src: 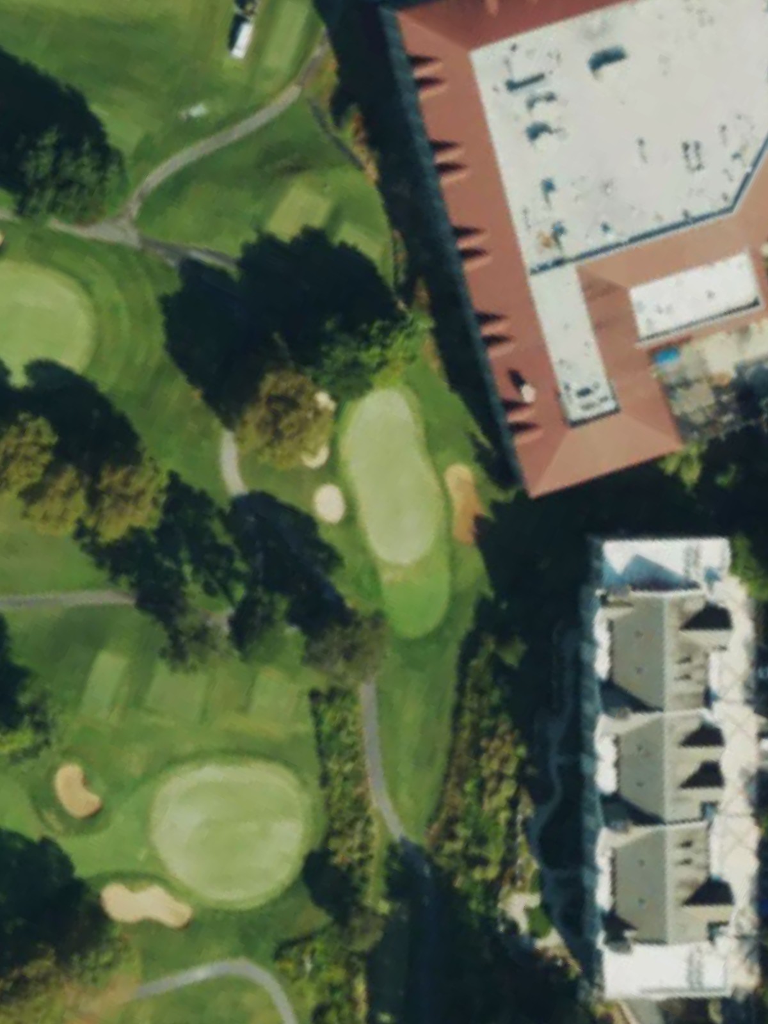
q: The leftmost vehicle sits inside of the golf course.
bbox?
[231,21,252,58]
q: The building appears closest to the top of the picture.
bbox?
[383,0,768,497]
